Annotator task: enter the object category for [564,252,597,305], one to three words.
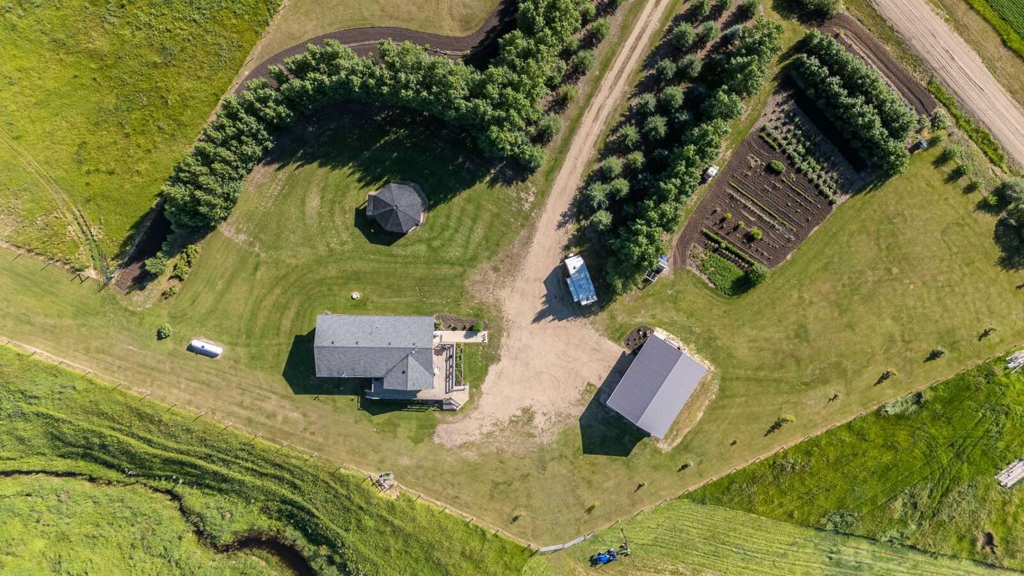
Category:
vehicle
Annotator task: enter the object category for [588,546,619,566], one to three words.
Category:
work vehicle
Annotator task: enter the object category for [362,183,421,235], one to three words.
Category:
gazebo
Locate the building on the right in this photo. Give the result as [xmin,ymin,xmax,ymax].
[606,333,707,439]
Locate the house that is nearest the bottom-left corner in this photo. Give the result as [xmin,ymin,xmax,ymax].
[312,313,435,393]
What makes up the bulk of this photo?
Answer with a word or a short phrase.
grass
